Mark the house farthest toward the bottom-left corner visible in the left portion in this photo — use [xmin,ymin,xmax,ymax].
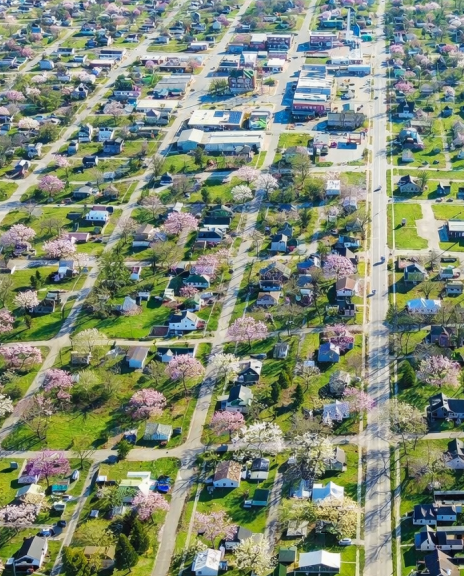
[9,535,55,573]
